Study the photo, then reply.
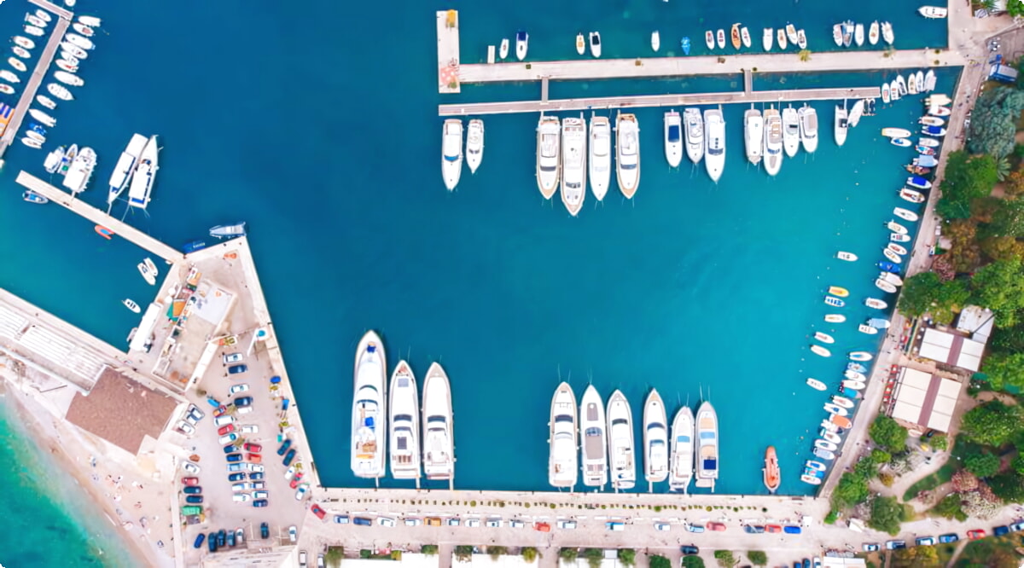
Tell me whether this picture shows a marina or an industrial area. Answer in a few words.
marina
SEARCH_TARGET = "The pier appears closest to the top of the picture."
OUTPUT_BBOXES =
[35,0,75,22]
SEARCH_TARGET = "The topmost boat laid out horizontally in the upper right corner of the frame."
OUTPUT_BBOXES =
[919,5,948,18]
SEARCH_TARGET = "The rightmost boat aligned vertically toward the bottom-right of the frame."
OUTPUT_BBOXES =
[762,447,780,495]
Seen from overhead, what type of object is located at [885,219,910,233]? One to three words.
boat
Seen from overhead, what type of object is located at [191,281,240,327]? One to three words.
building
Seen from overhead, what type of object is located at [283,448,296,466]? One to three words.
vehicle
